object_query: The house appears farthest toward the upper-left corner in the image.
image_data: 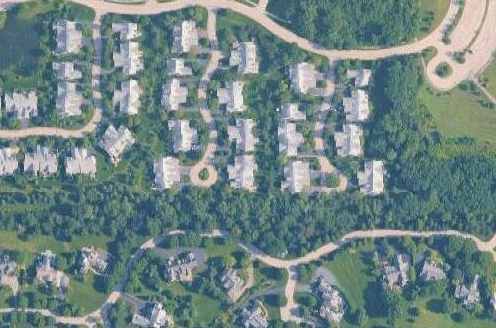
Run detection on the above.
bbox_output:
[52,19,82,54]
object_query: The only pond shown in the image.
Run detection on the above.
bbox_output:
[0,11,41,73]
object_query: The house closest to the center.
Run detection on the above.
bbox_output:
[227,154,260,191]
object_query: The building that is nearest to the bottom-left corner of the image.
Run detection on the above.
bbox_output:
[0,251,21,294]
